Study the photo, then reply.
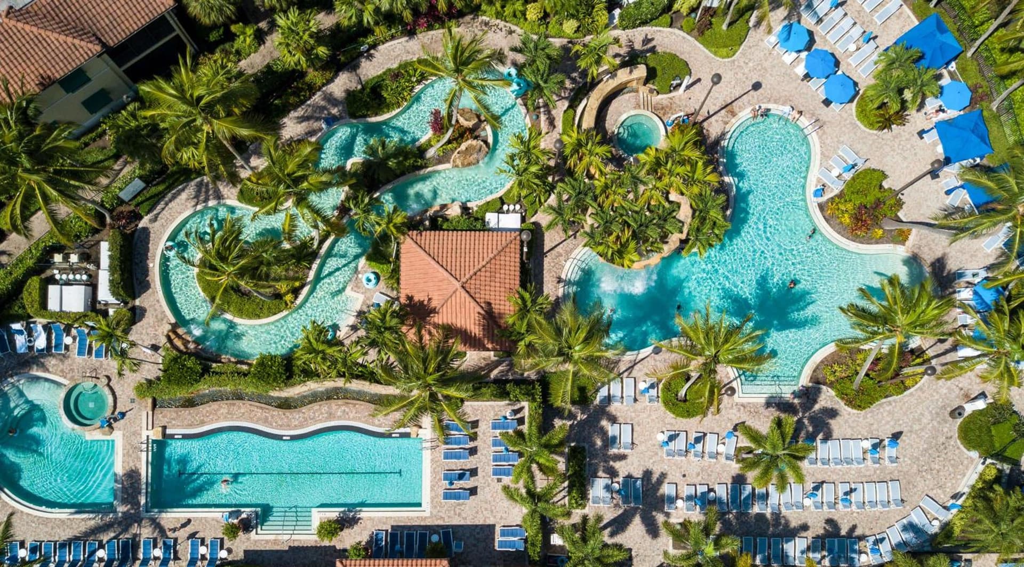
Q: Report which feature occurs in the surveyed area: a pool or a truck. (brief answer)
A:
pool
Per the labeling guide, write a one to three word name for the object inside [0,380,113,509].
swimming pool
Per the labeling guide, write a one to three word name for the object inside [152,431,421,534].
swimming pool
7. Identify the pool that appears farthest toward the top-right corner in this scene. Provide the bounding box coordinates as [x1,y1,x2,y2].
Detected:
[570,114,931,392]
